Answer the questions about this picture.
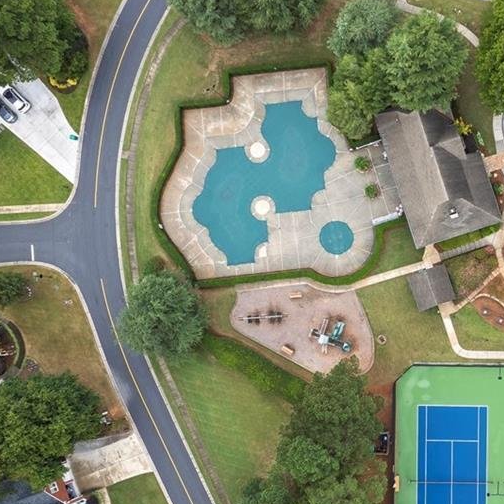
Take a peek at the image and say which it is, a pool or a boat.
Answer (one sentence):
It is a pool that can be seen here.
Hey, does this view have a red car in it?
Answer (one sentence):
No, this view has no red car in it.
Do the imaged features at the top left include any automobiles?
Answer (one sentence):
Yes, I can see an automobile at the top left.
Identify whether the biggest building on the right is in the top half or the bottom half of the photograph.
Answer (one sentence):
You can find the biggest building on the right in the top half.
